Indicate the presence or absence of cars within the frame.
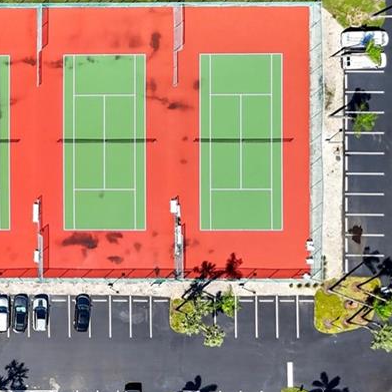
Yes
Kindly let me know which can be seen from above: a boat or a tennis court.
tennis court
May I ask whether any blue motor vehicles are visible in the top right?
No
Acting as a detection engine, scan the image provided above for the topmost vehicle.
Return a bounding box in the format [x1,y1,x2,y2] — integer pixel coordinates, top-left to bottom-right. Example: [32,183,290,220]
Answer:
[342,31,389,49]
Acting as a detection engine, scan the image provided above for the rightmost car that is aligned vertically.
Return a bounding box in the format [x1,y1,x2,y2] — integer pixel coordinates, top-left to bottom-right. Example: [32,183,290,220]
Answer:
[75,295,93,332]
